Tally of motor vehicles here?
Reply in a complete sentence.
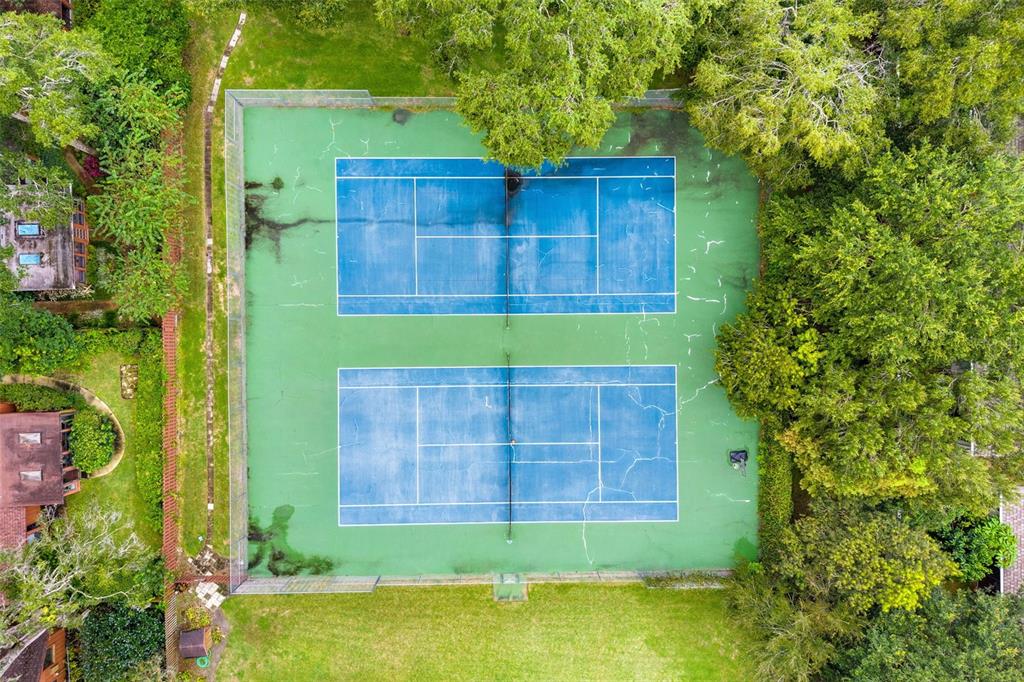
I count no motor vehicles.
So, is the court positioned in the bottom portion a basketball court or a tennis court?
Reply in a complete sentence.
From above, the court positioned in the bottom portion can be identified as a tennis court.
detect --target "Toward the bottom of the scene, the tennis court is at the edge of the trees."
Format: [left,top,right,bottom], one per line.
[337,365,679,526]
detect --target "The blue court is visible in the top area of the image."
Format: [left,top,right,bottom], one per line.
[336,156,678,316]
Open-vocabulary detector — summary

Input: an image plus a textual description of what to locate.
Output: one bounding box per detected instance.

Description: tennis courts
[336,156,678,316]
[337,365,679,526]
